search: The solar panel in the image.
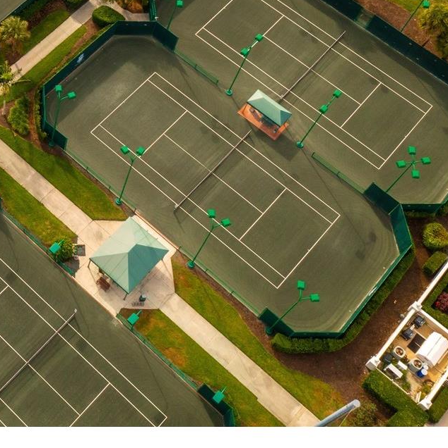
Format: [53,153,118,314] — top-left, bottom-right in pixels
[406,333,427,354]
